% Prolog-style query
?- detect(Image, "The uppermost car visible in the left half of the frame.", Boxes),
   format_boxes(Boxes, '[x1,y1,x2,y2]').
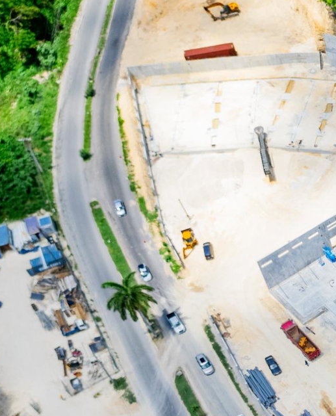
[112,197,125,215]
